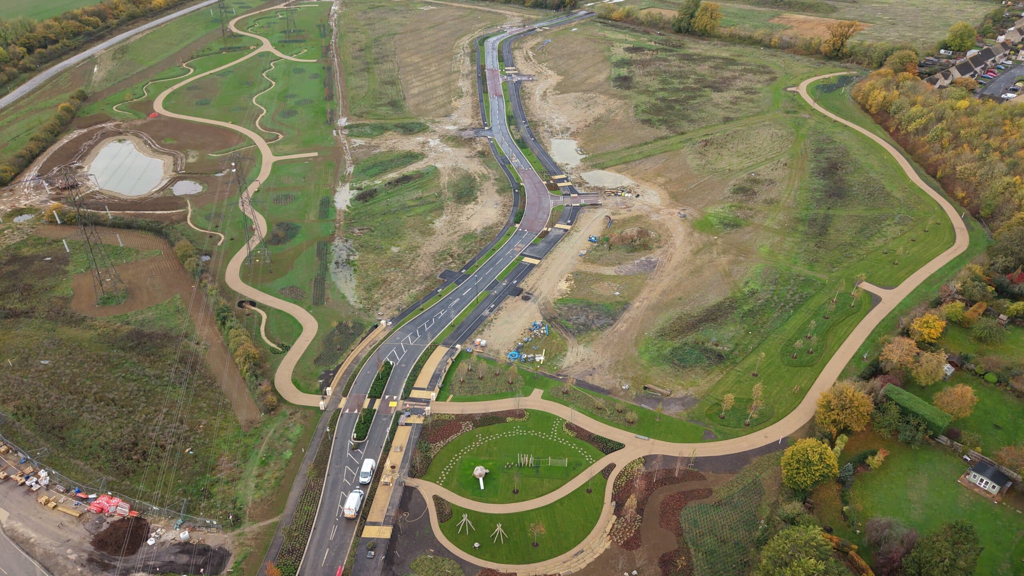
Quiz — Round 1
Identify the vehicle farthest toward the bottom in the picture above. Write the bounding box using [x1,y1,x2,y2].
[348,487,370,516]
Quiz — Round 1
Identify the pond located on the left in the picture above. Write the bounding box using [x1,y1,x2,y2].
[89,140,164,196]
